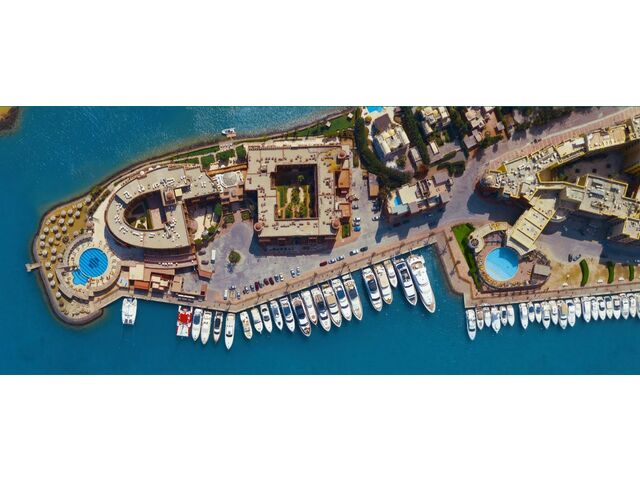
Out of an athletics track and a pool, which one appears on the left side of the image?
pool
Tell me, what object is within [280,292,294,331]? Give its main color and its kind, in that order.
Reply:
white boat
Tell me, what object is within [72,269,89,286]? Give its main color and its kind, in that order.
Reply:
blue swimming pool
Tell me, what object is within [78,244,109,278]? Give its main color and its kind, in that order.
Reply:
blue swimming pool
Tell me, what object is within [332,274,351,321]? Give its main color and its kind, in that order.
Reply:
white boat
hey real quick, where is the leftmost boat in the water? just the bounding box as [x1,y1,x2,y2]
[122,299,138,325]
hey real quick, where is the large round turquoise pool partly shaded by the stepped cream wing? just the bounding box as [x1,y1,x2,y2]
[484,246,519,281]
